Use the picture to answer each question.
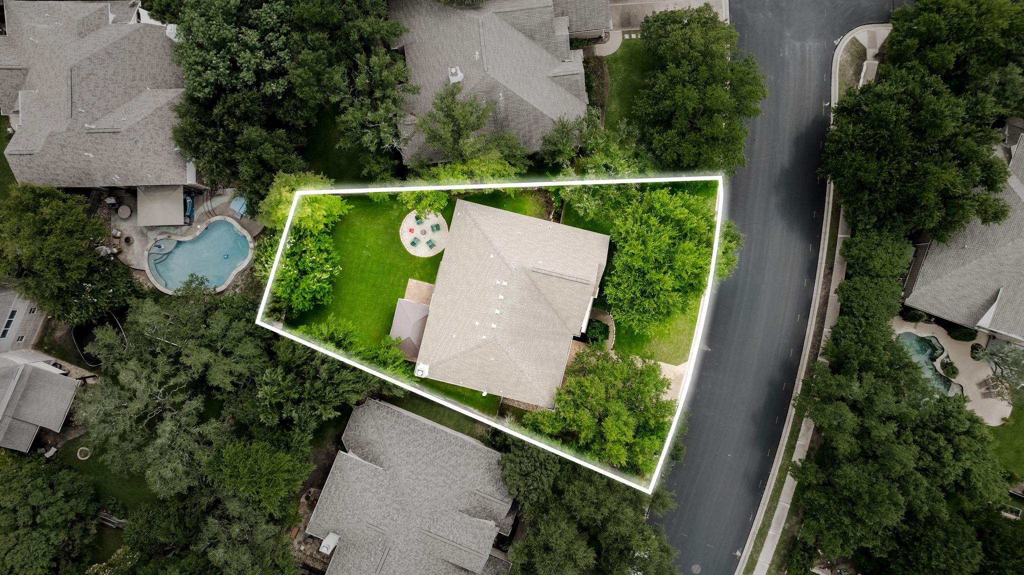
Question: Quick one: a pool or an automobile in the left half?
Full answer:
There is a pool in the left half.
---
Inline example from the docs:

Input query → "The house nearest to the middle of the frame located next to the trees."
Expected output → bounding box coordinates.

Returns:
[414,199,611,411]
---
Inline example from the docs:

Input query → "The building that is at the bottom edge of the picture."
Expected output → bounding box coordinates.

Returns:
[306,400,513,575]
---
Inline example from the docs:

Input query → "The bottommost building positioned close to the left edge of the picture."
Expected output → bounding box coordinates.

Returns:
[0,282,96,454]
